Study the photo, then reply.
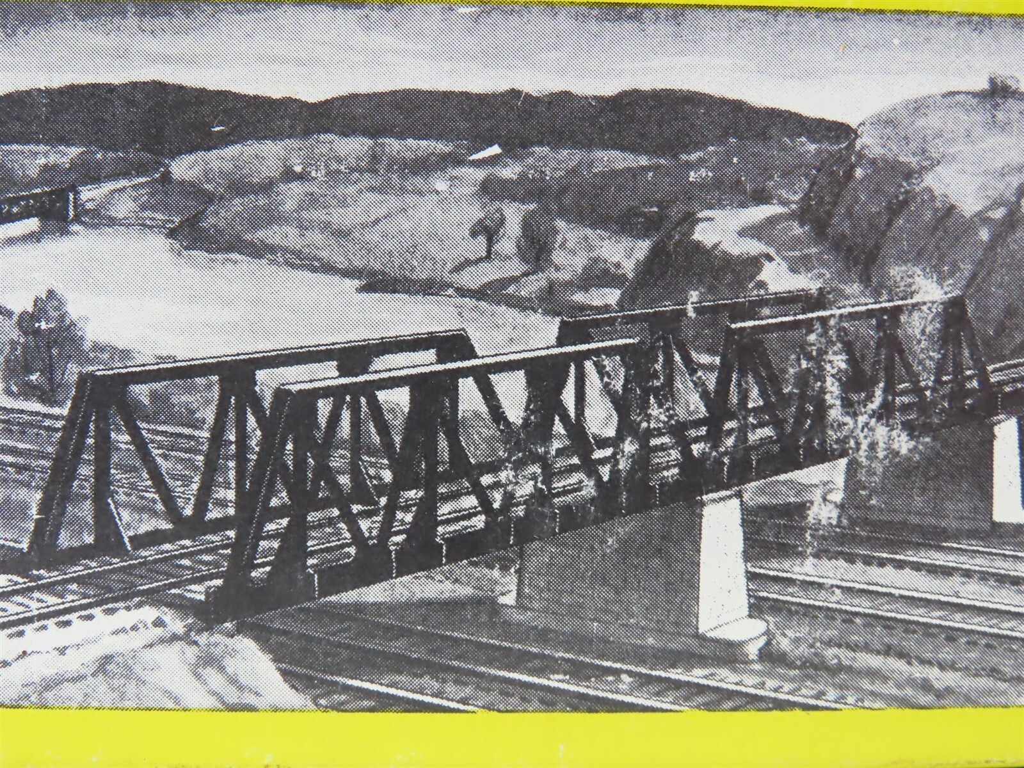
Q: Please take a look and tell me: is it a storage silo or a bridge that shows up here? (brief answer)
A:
bridge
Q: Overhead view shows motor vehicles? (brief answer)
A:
No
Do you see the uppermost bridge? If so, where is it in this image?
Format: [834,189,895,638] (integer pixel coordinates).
[0,183,77,240]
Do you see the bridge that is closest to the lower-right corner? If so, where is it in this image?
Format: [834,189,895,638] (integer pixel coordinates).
[0,289,1024,630]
